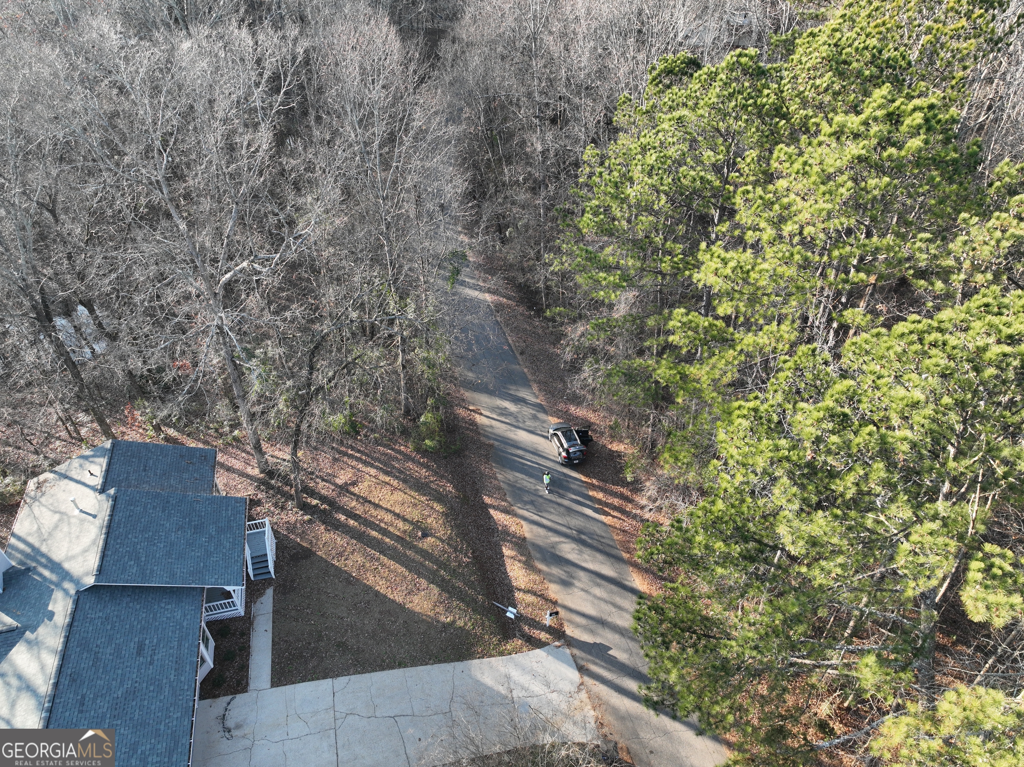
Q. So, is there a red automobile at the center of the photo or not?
No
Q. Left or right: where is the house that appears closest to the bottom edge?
left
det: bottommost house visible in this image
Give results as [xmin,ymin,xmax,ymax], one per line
[0,436,275,767]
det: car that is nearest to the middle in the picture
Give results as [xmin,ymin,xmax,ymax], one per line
[547,419,598,470]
